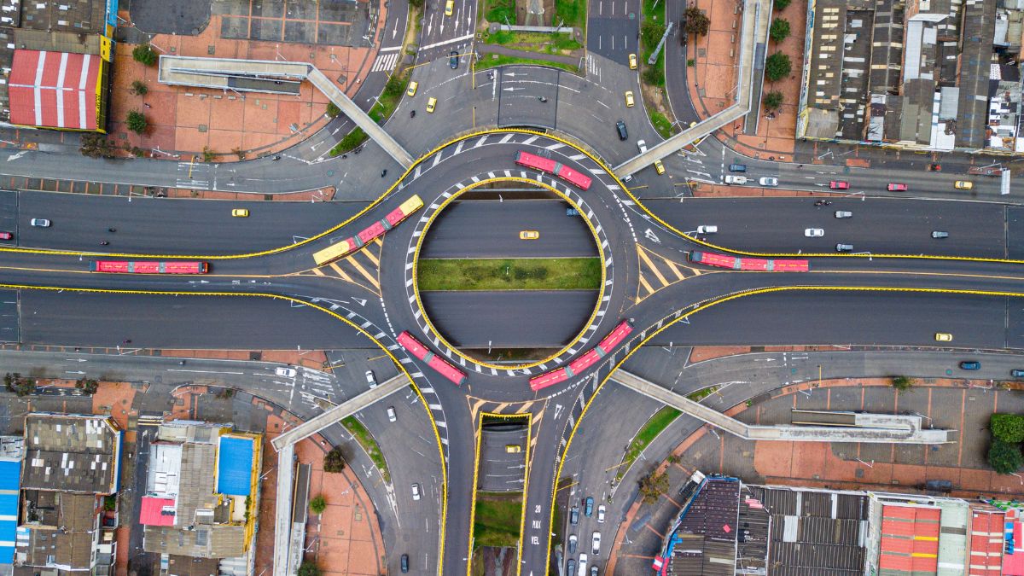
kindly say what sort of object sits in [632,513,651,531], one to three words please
vehicle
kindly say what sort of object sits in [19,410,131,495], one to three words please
building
